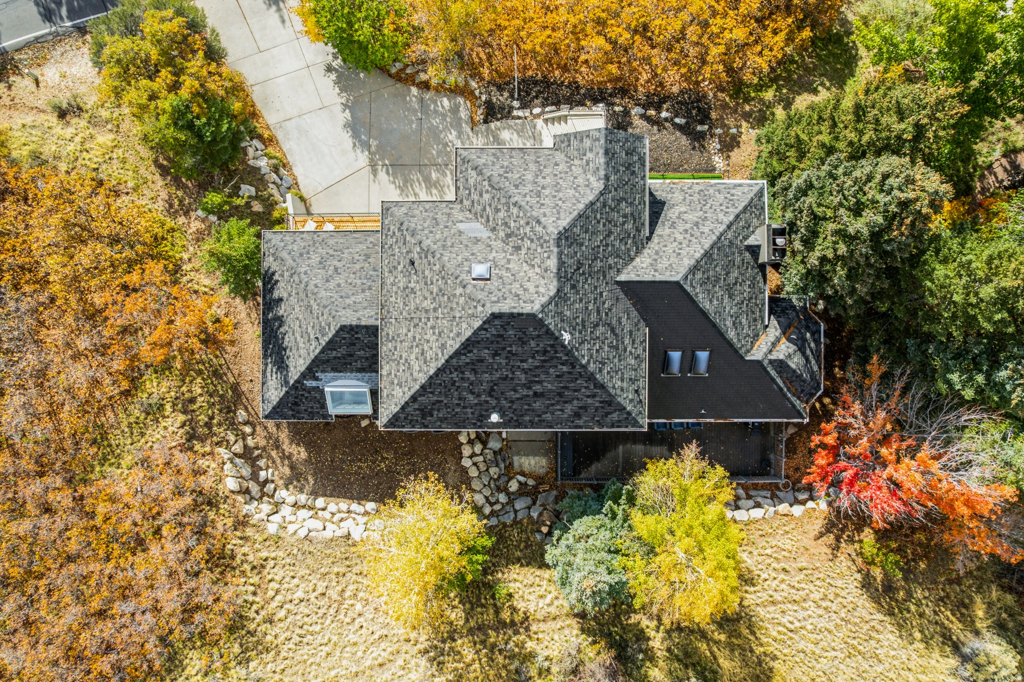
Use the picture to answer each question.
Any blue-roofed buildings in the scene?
No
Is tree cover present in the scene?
Yes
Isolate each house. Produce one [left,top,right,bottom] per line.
[261,124,826,431]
